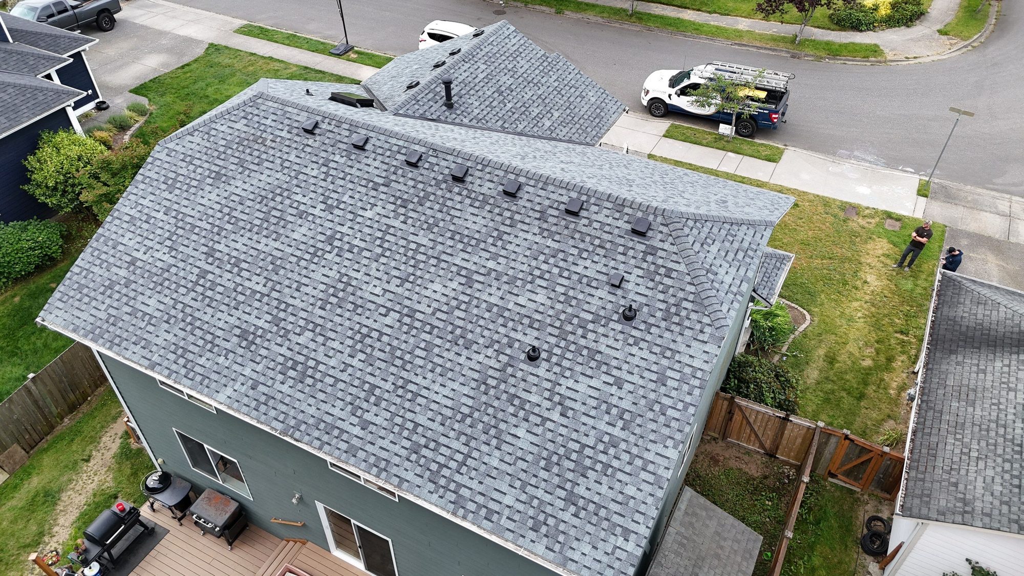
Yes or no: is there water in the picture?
No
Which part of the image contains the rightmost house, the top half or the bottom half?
bottom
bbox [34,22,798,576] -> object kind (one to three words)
house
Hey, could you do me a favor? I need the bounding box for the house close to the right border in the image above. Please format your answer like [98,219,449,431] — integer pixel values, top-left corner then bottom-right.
[881,269,1024,576]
